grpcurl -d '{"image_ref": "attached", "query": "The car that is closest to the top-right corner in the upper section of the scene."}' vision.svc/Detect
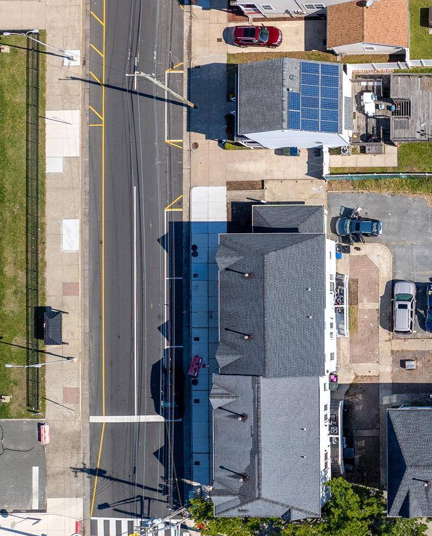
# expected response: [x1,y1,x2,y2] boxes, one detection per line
[232,23,286,50]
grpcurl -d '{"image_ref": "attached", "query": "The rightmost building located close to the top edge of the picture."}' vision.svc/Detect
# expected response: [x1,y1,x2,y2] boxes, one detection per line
[325,0,411,60]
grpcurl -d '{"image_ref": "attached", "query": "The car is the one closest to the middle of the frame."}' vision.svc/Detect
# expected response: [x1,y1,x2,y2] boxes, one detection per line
[157,356,185,408]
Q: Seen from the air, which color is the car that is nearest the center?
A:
black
